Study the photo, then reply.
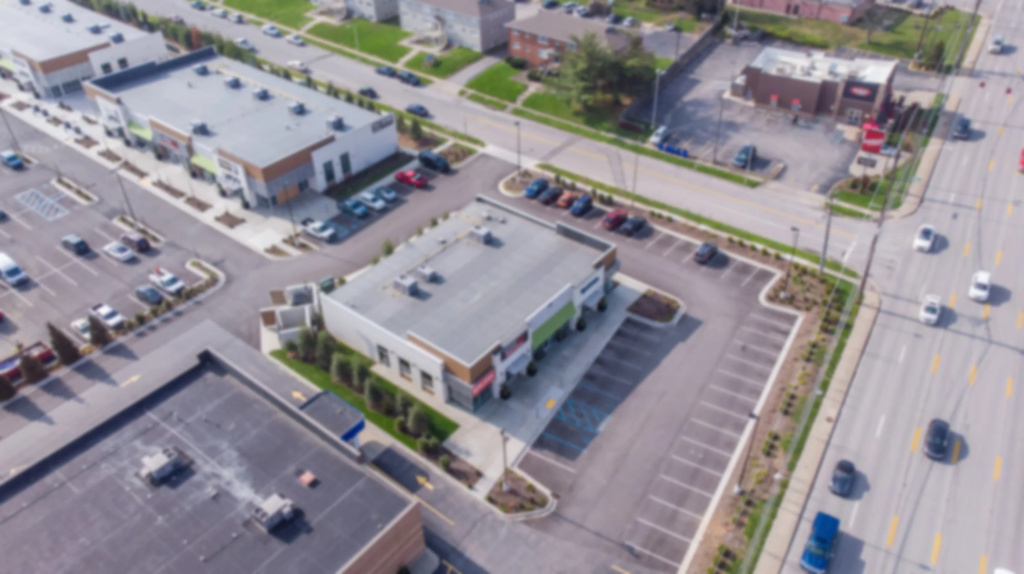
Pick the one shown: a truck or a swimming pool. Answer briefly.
truck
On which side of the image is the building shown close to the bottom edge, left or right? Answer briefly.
left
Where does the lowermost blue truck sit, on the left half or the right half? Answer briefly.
right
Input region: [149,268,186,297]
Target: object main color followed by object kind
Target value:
white truck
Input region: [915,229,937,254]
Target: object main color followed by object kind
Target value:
white car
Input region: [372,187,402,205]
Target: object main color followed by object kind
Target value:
blue car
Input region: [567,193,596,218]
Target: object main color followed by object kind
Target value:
blue car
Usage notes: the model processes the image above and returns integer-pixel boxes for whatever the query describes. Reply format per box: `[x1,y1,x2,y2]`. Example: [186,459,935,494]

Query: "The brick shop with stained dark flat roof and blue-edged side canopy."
[0,345,427,574]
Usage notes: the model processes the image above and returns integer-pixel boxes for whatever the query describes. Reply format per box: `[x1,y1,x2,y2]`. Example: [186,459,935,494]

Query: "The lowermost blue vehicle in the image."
[799,515,839,574]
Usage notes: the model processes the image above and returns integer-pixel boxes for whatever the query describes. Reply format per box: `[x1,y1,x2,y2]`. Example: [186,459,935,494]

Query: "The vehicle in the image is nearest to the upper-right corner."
[989,36,1004,53]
